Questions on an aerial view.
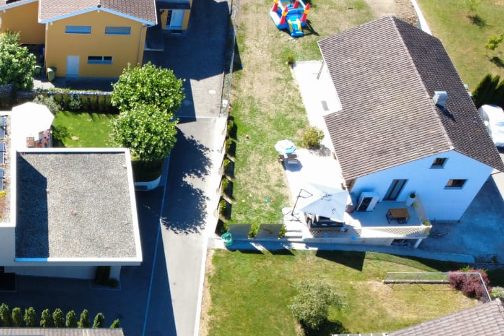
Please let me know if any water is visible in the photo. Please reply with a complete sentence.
No, there's no water in this view.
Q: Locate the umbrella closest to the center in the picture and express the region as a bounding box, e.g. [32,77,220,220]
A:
[273,143,294,173]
